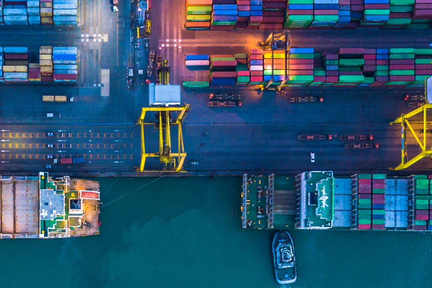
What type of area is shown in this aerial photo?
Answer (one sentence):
The area seen from above is a port.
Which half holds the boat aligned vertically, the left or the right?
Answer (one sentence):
The boat aligned vertically sits on the right side.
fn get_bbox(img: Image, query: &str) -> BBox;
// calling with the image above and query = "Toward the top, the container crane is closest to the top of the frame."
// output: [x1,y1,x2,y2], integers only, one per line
[263,32,290,92]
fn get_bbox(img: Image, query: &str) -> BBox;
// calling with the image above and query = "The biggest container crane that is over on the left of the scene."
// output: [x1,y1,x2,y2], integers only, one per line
[135,56,191,172]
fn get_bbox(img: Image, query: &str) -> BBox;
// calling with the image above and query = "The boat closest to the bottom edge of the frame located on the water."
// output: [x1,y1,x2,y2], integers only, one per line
[272,230,296,285]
